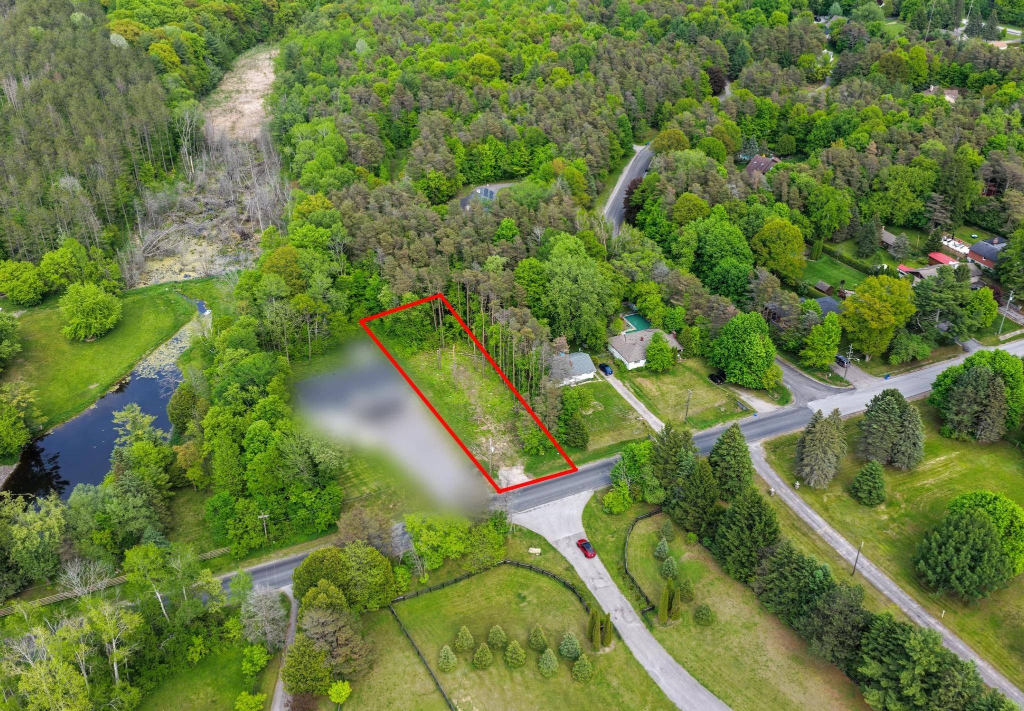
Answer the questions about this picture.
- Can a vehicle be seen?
Yes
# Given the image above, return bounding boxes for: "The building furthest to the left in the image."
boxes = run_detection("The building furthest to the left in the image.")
[291,354,410,419]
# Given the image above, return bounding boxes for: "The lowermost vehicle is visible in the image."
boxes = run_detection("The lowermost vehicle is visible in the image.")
[574,537,600,561]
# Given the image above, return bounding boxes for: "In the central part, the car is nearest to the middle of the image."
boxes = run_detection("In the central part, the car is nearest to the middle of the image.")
[599,363,614,378]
